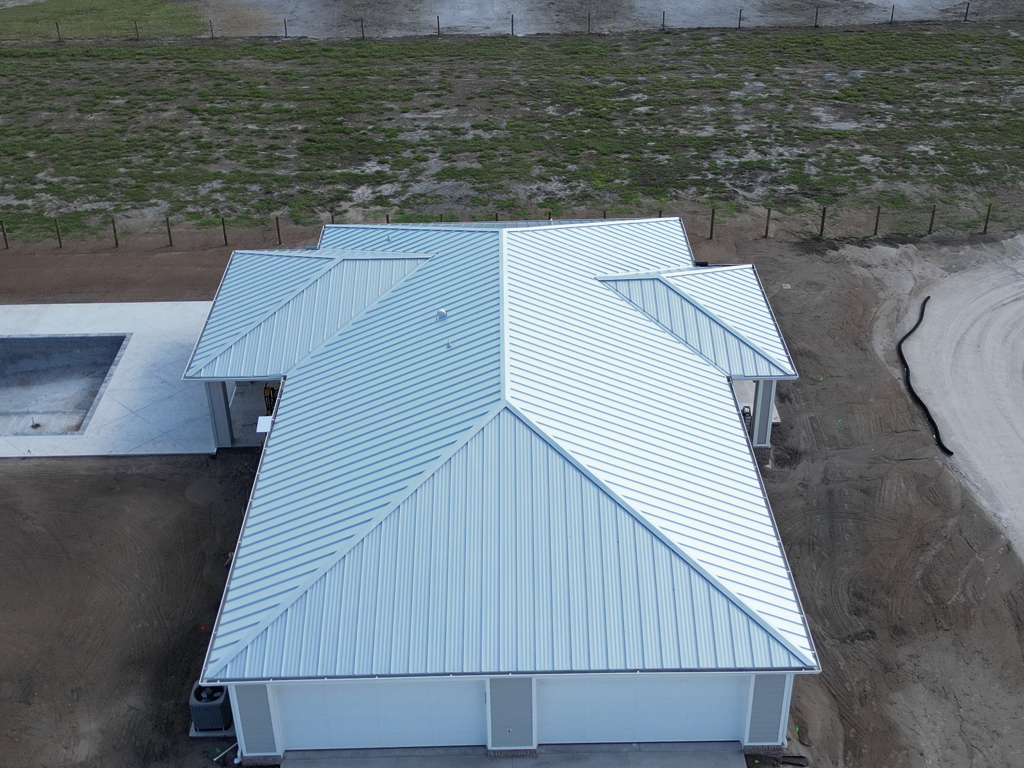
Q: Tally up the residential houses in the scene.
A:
one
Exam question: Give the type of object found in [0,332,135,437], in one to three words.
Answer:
swimming pool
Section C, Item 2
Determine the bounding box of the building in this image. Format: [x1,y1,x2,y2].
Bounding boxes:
[181,217,821,765]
